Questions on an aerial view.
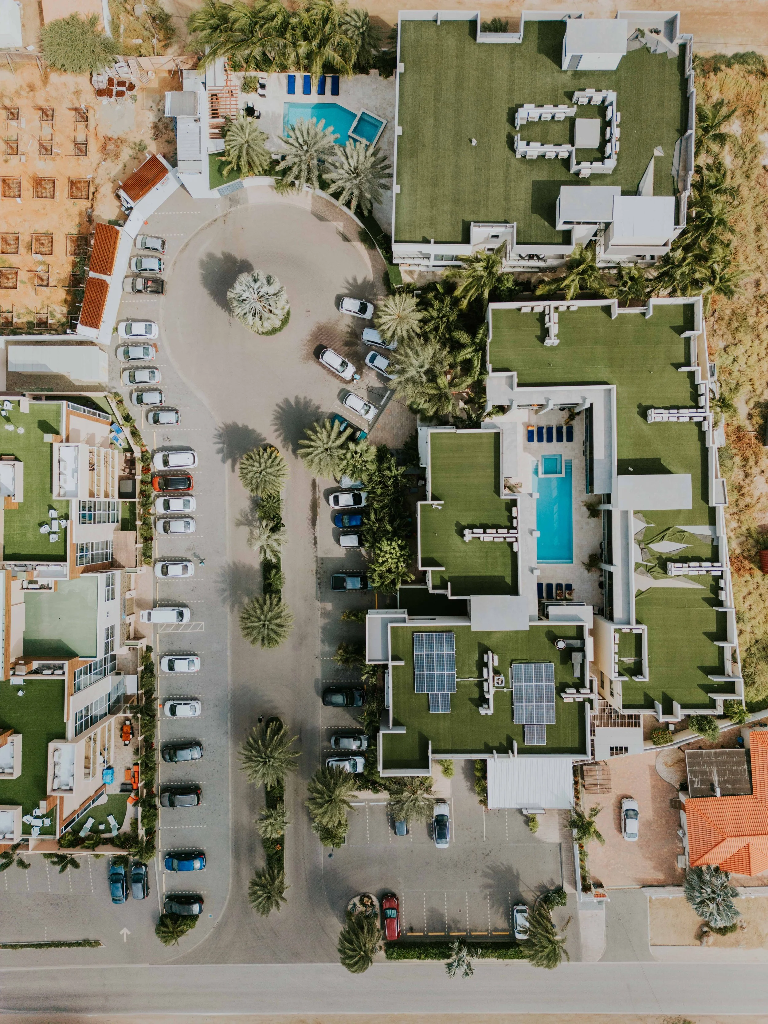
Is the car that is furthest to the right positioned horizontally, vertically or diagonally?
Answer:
vertically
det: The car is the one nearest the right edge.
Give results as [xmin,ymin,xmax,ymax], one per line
[620,797,641,841]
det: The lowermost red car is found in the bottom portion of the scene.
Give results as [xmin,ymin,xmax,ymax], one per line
[380,894,401,942]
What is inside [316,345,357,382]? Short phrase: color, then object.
white car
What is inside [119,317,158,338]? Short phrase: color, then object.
white car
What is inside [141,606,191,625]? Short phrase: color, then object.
white vehicle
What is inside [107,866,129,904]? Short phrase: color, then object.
blue car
